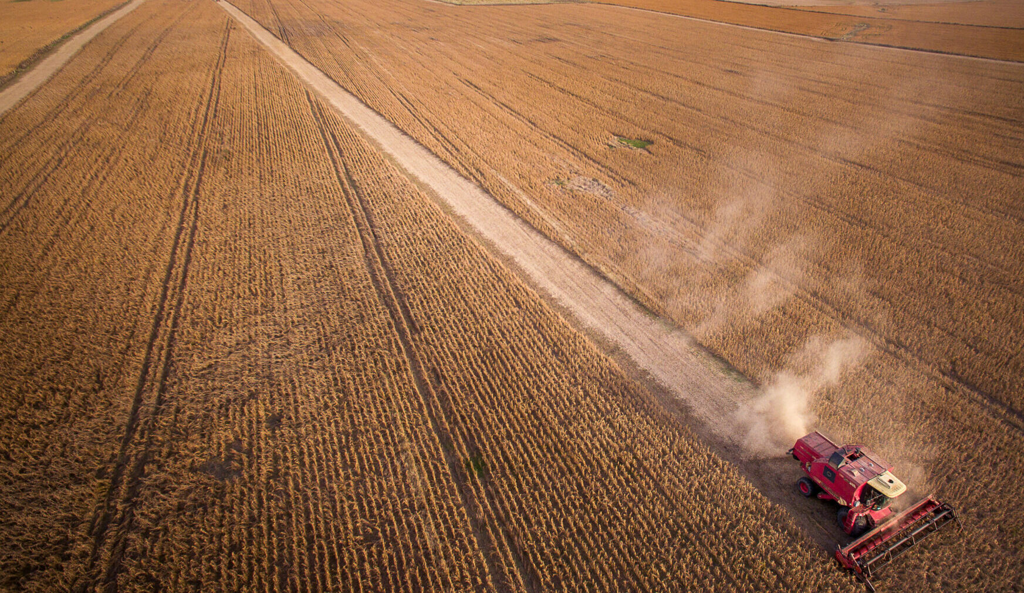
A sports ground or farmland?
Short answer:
farmland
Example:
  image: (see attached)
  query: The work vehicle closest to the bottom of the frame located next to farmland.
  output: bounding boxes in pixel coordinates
[784,429,965,593]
